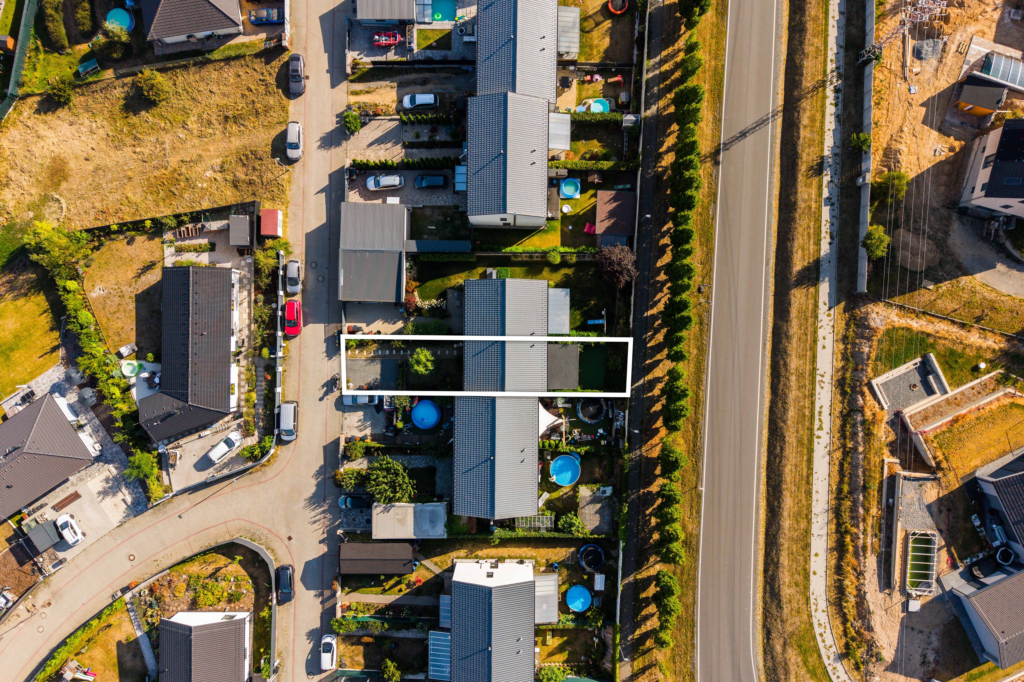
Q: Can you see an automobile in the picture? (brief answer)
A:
Yes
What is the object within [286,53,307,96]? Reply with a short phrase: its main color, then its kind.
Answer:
gray car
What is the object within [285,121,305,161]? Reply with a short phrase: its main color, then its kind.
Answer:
white car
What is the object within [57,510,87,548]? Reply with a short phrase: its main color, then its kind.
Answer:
white car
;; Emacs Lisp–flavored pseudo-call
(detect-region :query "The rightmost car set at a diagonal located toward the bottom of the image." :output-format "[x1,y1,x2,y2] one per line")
[208,430,245,464]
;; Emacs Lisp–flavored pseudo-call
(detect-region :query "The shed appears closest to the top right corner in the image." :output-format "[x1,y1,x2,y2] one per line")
[949,75,1005,115]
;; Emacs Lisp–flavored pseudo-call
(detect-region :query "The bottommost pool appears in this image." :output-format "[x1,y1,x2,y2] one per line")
[565,583,592,611]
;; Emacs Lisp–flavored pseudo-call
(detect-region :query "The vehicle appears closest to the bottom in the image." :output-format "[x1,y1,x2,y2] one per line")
[320,632,338,670]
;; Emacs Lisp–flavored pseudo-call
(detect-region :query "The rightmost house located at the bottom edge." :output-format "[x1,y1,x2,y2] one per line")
[950,554,1024,670]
